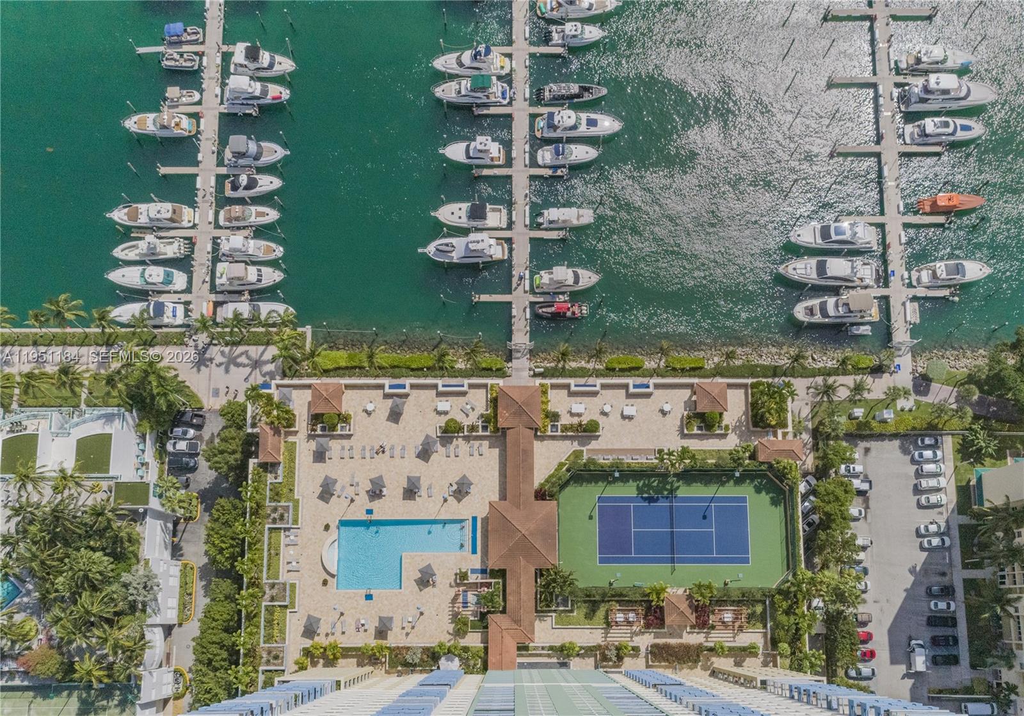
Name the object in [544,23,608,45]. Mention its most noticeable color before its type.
white boat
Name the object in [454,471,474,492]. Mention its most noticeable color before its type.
gray umbrella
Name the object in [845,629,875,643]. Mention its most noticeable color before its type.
red car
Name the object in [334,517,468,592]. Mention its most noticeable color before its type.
blue swimming pool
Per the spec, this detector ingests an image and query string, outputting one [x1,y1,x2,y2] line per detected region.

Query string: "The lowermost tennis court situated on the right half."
[558,474,787,587]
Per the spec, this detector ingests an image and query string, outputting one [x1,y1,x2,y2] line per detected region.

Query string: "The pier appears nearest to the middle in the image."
[474,0,569,352]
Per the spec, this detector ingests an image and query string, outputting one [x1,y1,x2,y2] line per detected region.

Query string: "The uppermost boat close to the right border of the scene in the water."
[896,48,977,76]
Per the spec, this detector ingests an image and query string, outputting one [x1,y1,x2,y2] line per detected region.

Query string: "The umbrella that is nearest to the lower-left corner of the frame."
[302,612,324,632]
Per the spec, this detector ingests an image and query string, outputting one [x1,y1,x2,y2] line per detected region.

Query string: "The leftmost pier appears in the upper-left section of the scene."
[131,0,259,322]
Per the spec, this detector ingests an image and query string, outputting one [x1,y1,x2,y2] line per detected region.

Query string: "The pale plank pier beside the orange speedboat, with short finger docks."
[831,0,951,351]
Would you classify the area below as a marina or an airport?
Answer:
marina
